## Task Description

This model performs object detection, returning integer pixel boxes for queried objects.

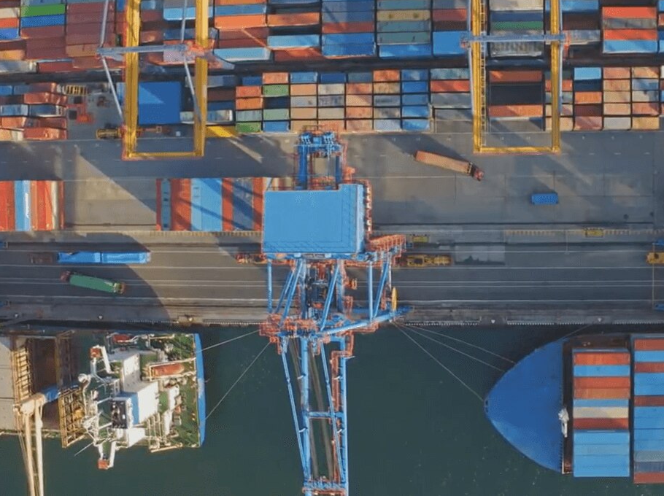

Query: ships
[0,329,209,465]
[484,328,664,477]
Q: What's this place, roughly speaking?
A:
port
